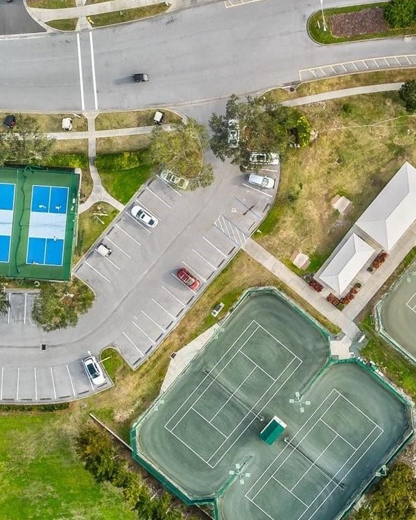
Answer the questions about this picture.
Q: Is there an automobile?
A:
Yes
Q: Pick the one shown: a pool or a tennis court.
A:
tennis court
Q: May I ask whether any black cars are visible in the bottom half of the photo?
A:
No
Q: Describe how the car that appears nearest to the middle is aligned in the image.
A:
at an angle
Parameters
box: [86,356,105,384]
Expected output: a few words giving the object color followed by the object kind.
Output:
white car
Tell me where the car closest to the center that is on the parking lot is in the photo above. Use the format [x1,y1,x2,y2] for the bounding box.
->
[176,267,202,291]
